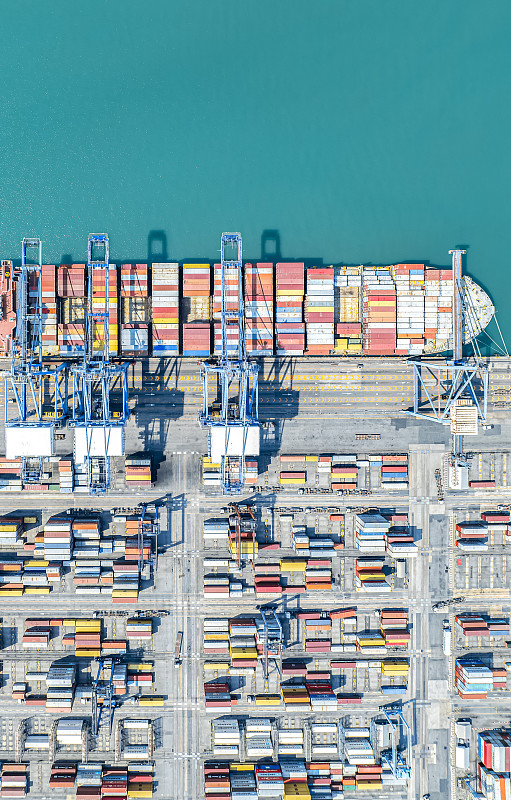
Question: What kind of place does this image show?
port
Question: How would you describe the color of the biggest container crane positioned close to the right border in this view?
white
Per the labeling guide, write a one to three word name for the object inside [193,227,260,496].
container crane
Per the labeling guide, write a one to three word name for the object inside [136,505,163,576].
container crane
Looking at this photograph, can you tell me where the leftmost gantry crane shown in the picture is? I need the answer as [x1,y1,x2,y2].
[0,234,81,483]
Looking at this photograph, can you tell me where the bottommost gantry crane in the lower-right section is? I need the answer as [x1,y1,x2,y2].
[377,709,421,793]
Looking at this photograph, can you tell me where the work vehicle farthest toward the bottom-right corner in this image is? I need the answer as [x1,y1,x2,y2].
[454,770,477,800]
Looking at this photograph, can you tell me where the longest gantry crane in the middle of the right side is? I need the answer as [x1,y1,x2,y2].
[397,250,488,490]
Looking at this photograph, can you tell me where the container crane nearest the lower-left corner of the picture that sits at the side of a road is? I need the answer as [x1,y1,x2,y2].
[91,657,120,738]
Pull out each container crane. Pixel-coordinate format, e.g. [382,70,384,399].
[0,234,81,483]
[397,250,488,490]
[65,228,138,497]
[91,657,120,738]
[136,505,163,576]
[256,609,287,684]
[230,505,260,576]
[193,227,260,496]
[377,709,421,793]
